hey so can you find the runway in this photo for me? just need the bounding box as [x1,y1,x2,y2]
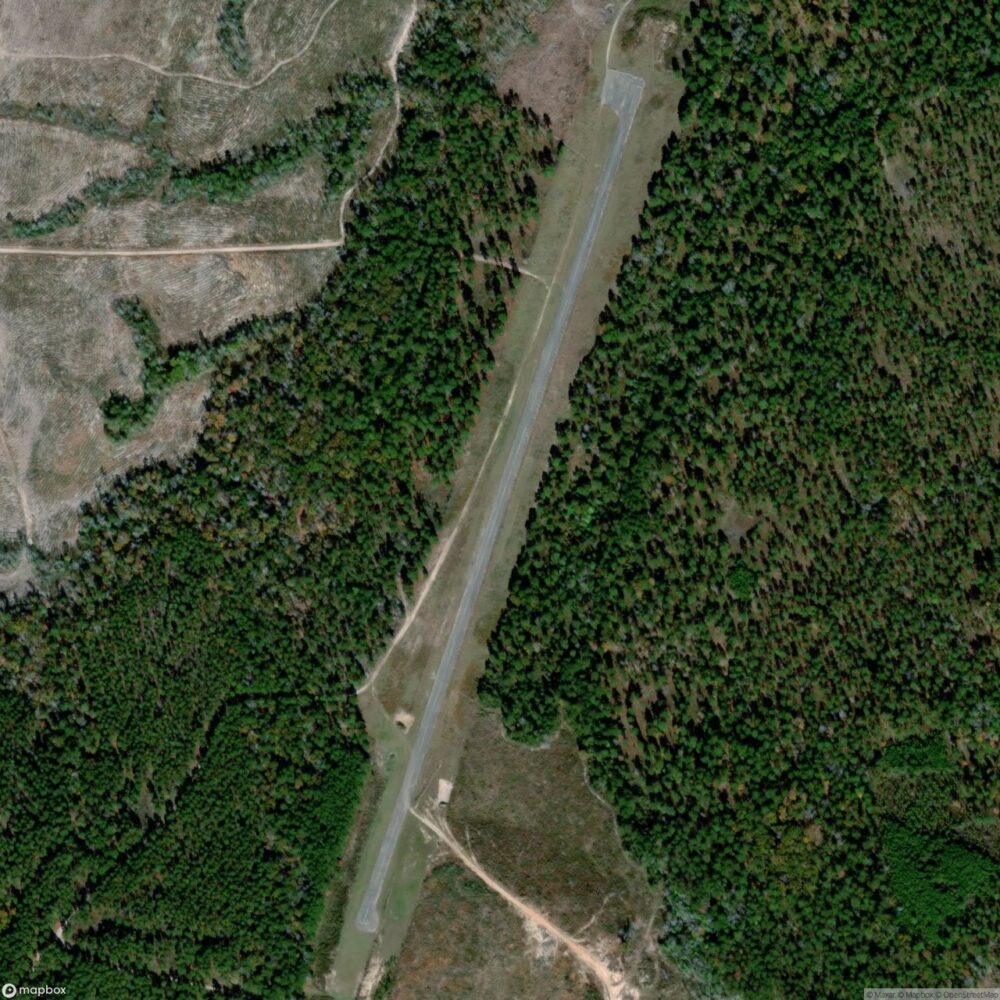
[356,69,646,933]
